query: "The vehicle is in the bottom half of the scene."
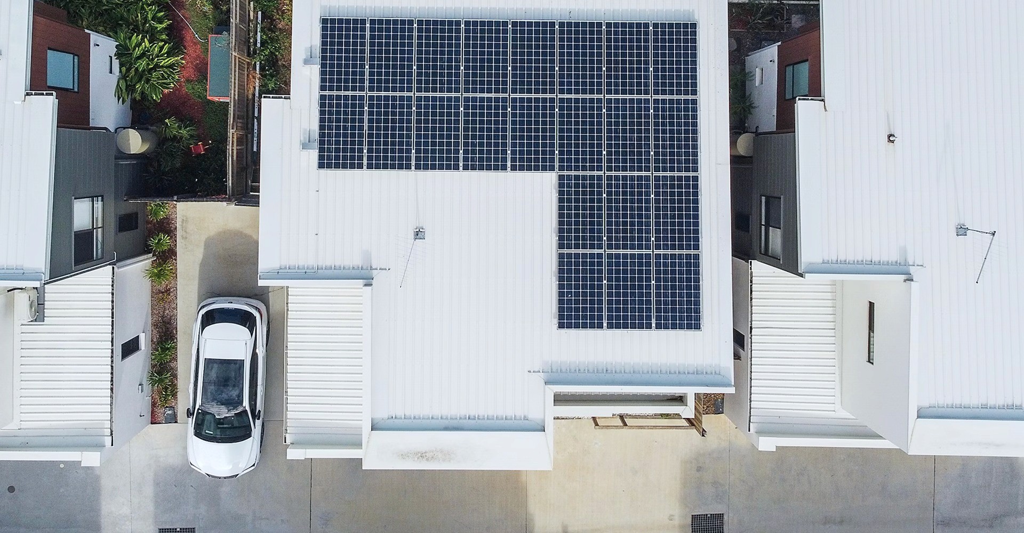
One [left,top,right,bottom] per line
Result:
[188,295,271,476]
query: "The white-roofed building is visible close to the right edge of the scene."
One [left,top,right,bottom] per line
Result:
[723,0,1024,457]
